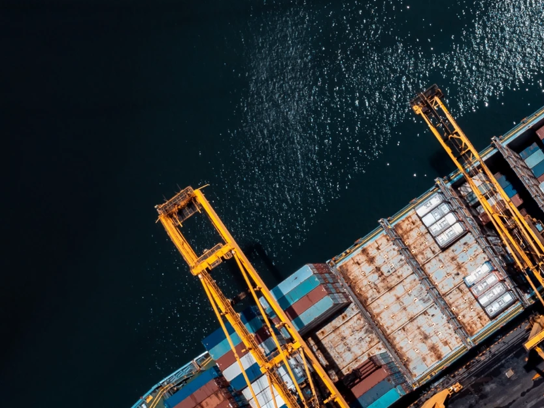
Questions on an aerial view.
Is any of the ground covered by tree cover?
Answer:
No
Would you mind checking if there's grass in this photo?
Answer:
No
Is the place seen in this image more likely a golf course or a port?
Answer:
port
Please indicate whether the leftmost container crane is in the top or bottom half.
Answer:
bottom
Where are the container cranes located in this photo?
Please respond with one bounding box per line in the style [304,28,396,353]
[403,81,544,362]
[151,180,356,408]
